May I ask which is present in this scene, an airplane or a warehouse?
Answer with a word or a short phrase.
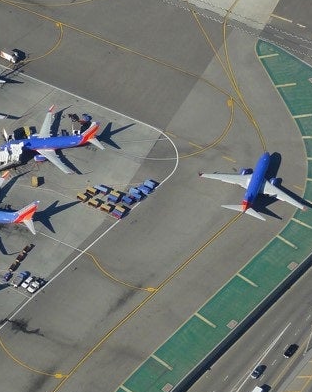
airplane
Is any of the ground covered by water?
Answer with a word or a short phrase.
No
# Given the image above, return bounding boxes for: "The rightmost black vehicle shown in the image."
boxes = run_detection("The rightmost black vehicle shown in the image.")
[284,344,298,358]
